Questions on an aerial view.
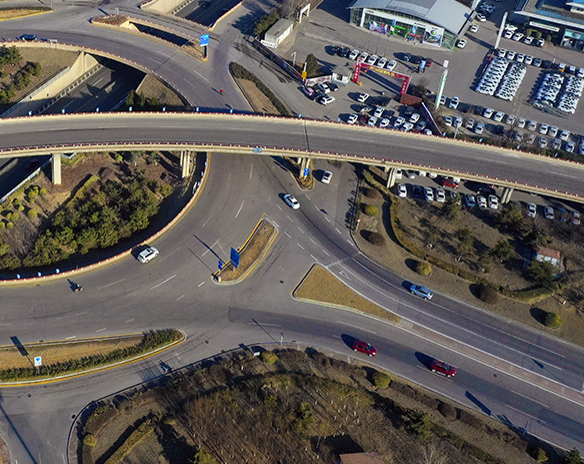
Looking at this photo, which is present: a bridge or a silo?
bridge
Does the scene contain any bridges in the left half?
Yes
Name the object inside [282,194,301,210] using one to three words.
car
